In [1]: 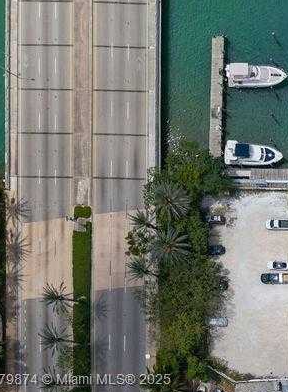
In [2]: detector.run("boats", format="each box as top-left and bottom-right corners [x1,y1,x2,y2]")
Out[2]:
[226,61,288,89]
[224,142,284,169]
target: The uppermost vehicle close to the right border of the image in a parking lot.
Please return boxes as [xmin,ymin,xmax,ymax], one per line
[268,219,288,231]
